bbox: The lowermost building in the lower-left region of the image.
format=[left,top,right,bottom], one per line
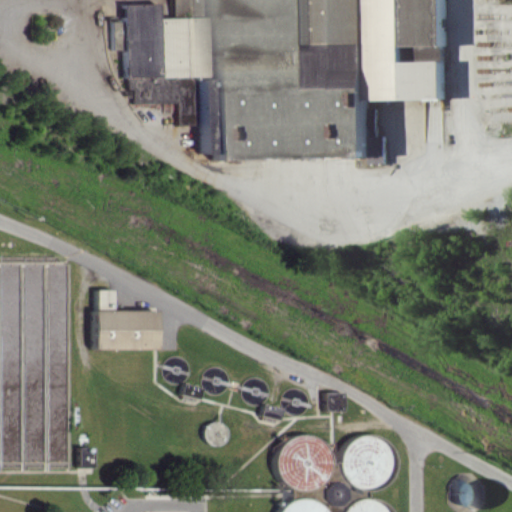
[82,446,98,468]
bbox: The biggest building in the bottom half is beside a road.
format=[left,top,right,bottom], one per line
[97,310,166,350]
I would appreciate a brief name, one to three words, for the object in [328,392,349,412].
building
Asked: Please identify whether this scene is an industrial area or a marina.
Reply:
industrial area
